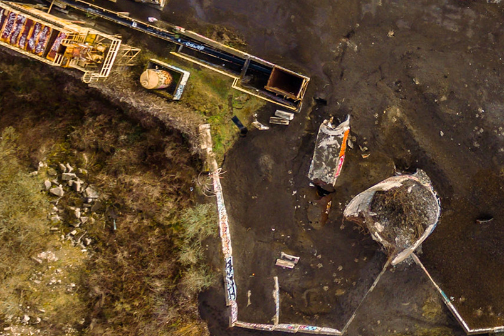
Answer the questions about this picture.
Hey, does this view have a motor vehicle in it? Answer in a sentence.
No, the frame has no motor vehicle in it.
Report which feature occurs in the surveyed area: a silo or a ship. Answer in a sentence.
This aerial view contains a silo.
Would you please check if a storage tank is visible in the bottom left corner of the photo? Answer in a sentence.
No, in the bottom left corner of the photo there is no storage tank.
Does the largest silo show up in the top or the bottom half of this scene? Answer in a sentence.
It is in the bottom half that the largest silo appears.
